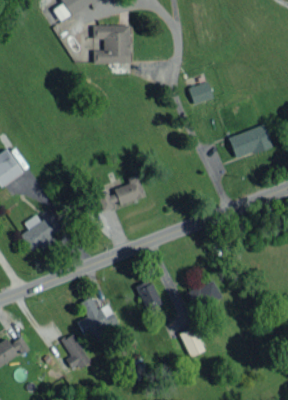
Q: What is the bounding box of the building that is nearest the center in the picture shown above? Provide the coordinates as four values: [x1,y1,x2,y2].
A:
[108,181,144,207]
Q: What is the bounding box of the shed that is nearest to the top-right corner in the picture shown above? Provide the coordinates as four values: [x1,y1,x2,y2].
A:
[189,82,214,104]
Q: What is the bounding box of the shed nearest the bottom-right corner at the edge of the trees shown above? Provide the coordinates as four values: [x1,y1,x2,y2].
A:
[180,328,206,358]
